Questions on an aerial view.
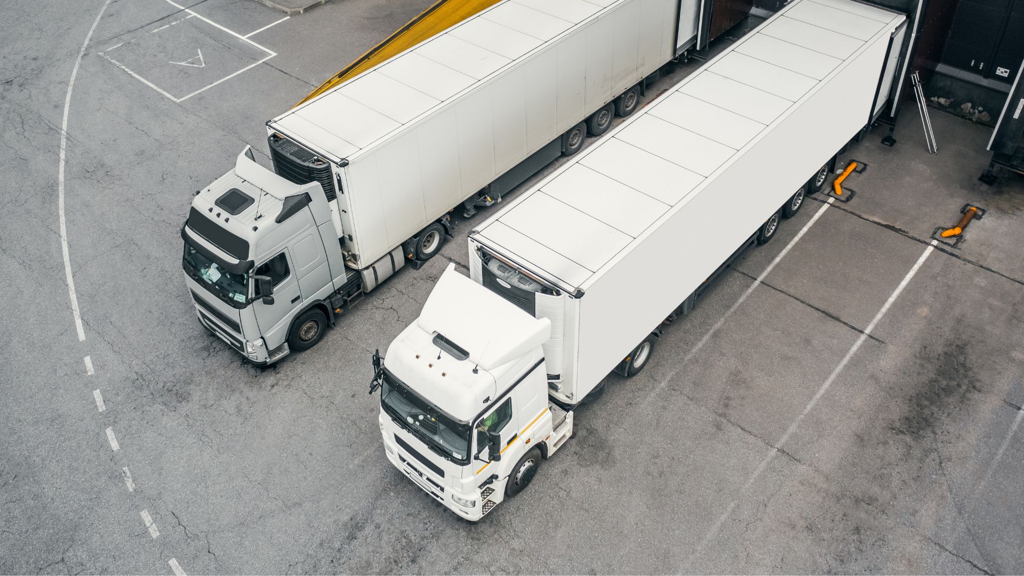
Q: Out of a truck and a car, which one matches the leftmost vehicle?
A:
truck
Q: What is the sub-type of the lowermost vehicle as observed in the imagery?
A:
truck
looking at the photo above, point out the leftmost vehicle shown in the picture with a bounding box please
[177,136,457,369]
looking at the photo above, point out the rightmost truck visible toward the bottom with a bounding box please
[360,264,657,519]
